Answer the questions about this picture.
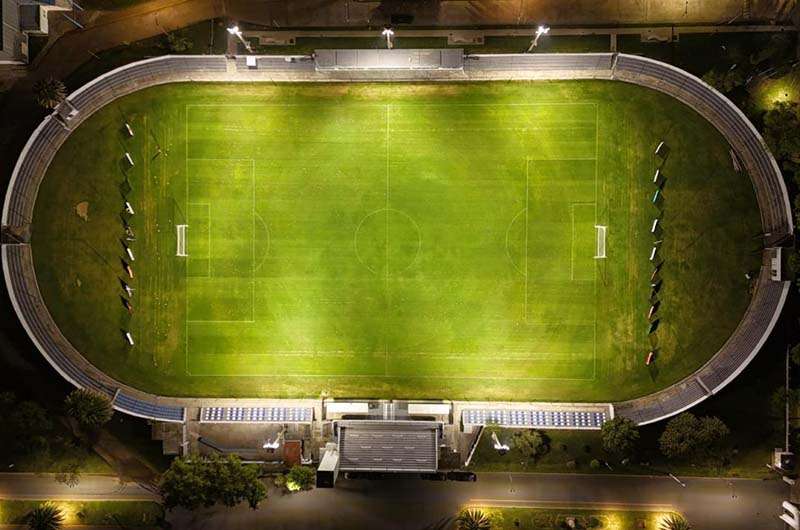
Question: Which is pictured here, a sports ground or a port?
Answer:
sports ground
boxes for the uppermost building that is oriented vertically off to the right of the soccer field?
[767,248,781,280]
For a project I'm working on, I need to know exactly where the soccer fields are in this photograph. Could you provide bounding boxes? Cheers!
[180,99,603,384]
